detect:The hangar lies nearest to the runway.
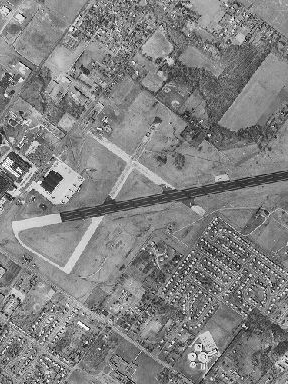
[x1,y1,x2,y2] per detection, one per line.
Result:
[39,170,63,194]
